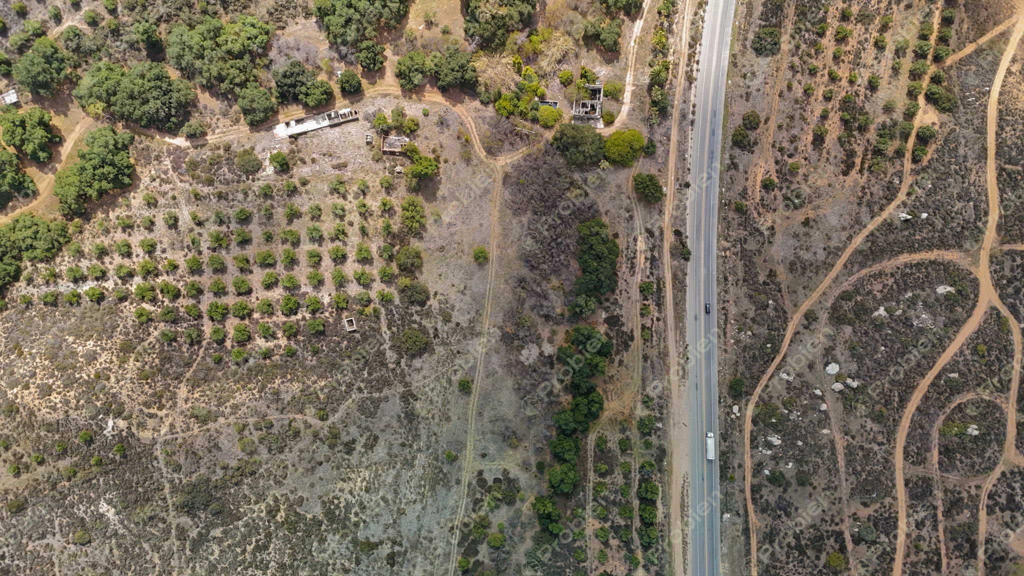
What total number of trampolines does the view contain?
none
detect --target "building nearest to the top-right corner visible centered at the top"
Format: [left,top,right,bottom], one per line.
[573,82,604,128]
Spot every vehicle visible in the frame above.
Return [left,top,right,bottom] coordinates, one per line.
[705,302,710,314]
[706,432,715,461]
